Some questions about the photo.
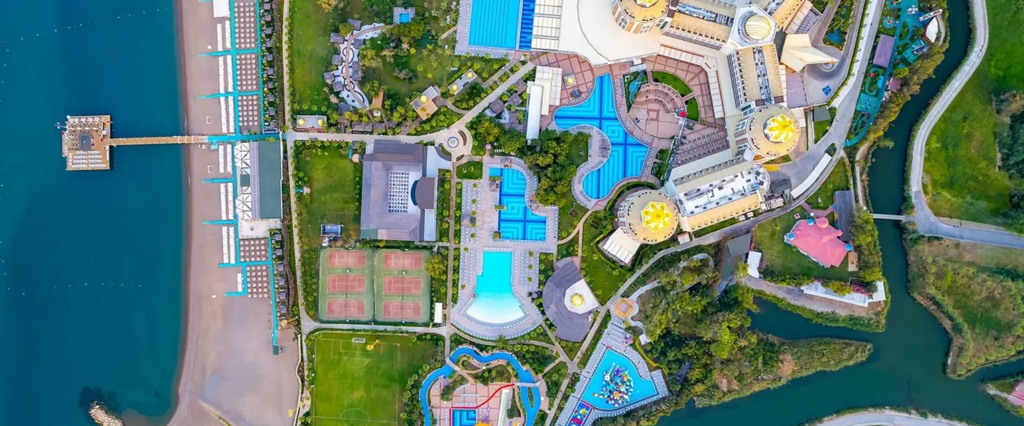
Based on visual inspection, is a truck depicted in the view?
No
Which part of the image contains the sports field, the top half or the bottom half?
bottom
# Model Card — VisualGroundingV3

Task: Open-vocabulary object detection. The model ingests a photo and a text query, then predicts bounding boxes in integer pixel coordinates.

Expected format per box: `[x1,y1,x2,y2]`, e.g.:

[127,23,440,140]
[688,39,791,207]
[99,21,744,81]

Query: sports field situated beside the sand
[310,334,445,426]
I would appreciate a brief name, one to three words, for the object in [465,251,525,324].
swimming pool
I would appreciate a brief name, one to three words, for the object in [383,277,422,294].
tennis court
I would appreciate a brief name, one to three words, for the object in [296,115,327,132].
building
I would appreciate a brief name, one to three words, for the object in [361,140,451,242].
building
